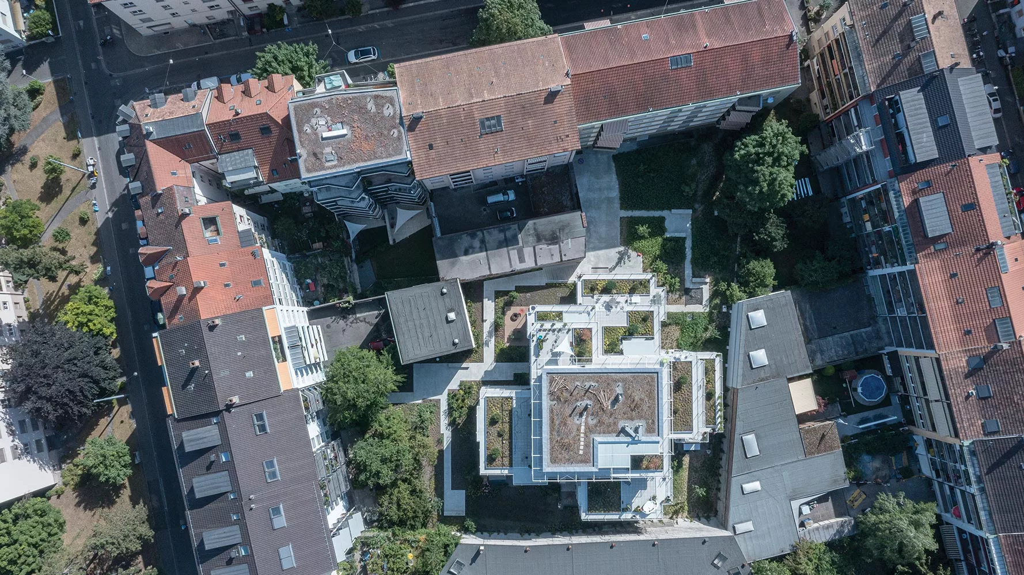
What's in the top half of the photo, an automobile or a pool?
automobile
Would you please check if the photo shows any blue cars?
Yes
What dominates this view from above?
buildings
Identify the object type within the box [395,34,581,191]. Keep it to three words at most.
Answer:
house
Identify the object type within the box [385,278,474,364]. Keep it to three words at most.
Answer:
building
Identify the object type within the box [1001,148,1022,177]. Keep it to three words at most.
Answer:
car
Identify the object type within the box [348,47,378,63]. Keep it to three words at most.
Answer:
car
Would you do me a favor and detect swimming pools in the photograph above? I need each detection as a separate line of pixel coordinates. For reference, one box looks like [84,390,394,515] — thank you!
[853,370,887,403]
